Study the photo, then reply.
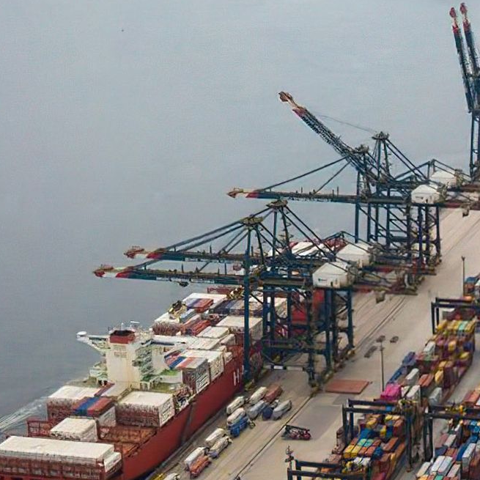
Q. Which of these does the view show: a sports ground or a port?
port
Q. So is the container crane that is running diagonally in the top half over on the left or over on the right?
right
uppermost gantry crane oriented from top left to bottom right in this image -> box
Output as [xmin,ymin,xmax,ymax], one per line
[277,86,480,262]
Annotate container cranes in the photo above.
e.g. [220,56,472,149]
[341,395,420,463]
[123,200,435,367]
[227,144,480,283]
[92,217,416,389]
[433,294,480,335]
[447,2,480,176]
[277,86,480,262]
[288,455,372,480]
